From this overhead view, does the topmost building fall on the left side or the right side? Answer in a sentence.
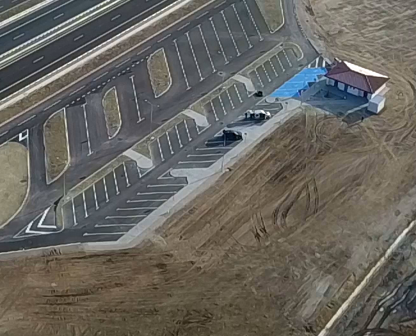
The topmost building sits on the right side.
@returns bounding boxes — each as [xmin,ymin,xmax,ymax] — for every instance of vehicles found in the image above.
[222,132,243,142]
[245,108,272,122]
[253,89,267,97]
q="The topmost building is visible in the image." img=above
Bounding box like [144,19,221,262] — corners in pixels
[325,61,391,100]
